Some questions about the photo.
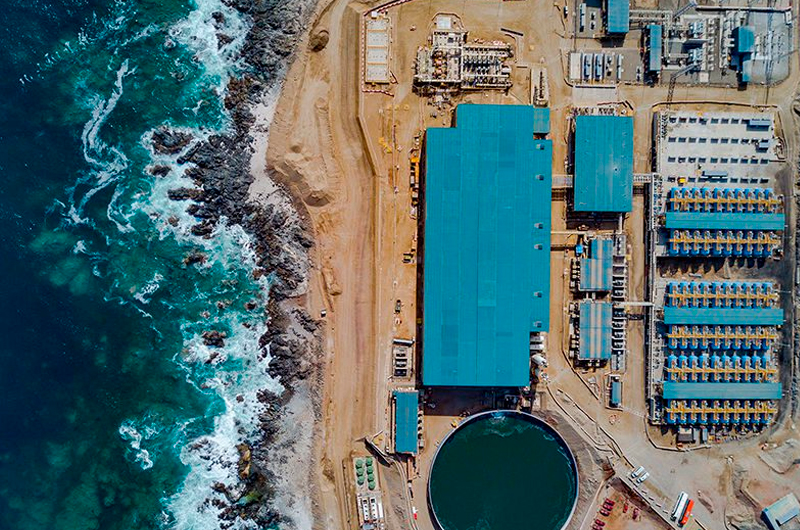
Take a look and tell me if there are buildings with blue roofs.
Yes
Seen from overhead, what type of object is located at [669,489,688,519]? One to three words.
vehicle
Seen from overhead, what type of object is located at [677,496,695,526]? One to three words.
vehicle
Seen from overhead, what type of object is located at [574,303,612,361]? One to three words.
building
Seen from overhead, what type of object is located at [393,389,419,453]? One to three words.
shed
